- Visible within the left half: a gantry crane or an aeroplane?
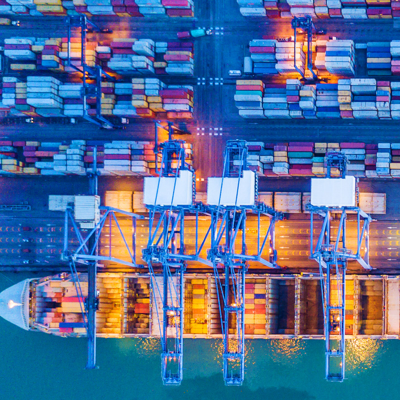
gantry crane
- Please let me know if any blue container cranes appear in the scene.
Yes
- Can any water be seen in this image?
Yes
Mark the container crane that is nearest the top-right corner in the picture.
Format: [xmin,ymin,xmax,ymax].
[292,12,325,82]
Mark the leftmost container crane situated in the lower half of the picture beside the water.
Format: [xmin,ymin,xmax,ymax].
[54,145,154,366]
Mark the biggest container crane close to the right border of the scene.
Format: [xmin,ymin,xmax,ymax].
[309,153,382,382]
